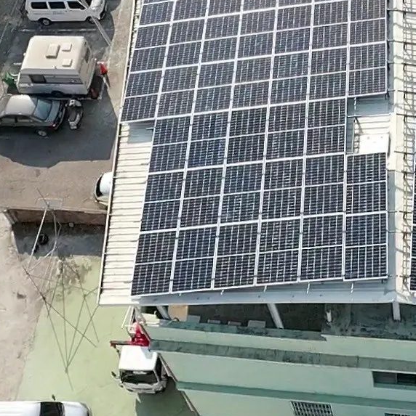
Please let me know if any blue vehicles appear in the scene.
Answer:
No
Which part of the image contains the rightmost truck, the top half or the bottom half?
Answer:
bottom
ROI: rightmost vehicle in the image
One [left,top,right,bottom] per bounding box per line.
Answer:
[114,327,174,401]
